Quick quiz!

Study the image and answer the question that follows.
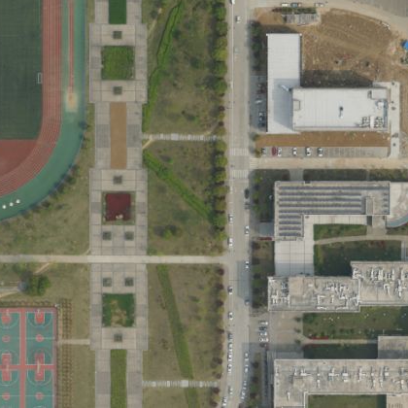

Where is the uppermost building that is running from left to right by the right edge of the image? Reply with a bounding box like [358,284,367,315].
[293,87,390,130]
